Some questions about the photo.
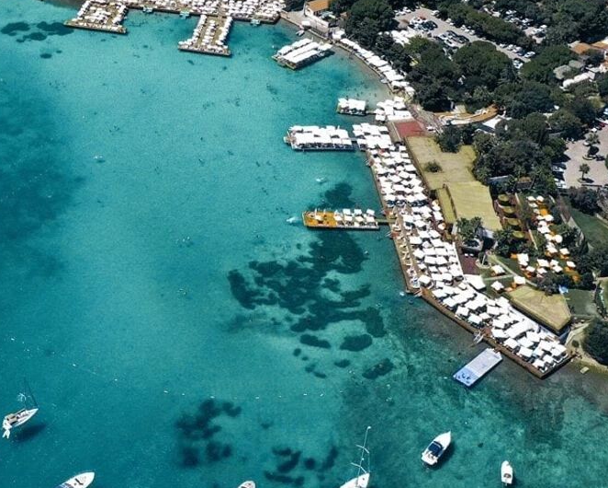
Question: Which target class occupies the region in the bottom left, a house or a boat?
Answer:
boat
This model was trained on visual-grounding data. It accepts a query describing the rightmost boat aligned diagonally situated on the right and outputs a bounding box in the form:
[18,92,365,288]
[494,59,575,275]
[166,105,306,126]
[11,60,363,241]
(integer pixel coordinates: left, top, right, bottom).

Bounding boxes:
[418,429,452,470]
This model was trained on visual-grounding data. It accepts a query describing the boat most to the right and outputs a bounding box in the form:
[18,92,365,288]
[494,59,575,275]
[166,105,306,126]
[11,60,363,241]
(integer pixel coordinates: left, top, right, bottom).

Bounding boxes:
[500,460,514,487]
